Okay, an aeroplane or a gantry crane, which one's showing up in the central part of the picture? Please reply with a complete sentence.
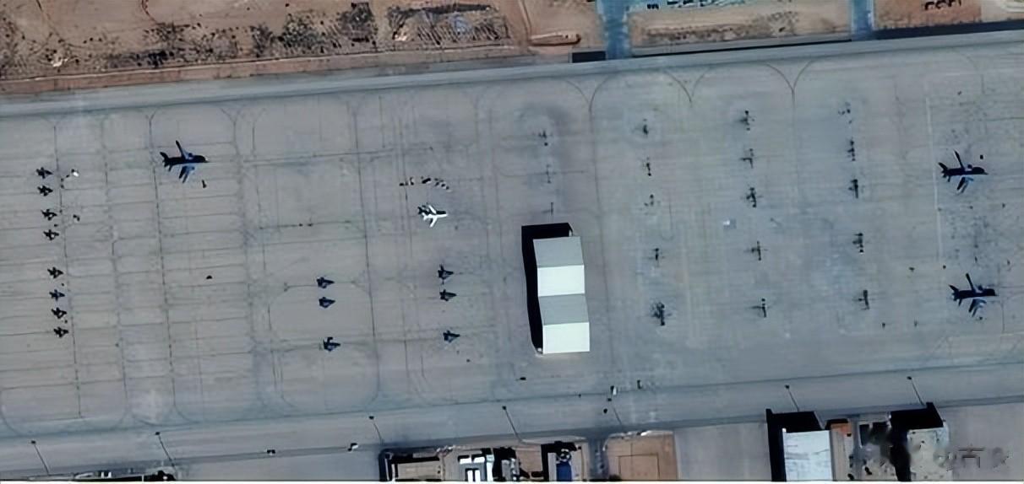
You can see an aeroplane in the central part of the picture.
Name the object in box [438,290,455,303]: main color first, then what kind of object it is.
black airplane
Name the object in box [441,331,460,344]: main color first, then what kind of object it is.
black airplane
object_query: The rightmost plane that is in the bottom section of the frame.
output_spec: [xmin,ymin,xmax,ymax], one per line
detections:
[958,277,994,315]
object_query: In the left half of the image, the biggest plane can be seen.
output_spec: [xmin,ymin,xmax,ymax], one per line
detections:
[165,142,207,183]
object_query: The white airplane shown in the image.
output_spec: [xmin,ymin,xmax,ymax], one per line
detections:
[422,203,447,227]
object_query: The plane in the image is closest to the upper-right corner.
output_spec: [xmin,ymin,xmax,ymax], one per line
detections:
[948,155,984,193]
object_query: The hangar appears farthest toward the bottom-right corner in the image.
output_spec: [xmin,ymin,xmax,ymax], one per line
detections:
[898,425,952,484]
